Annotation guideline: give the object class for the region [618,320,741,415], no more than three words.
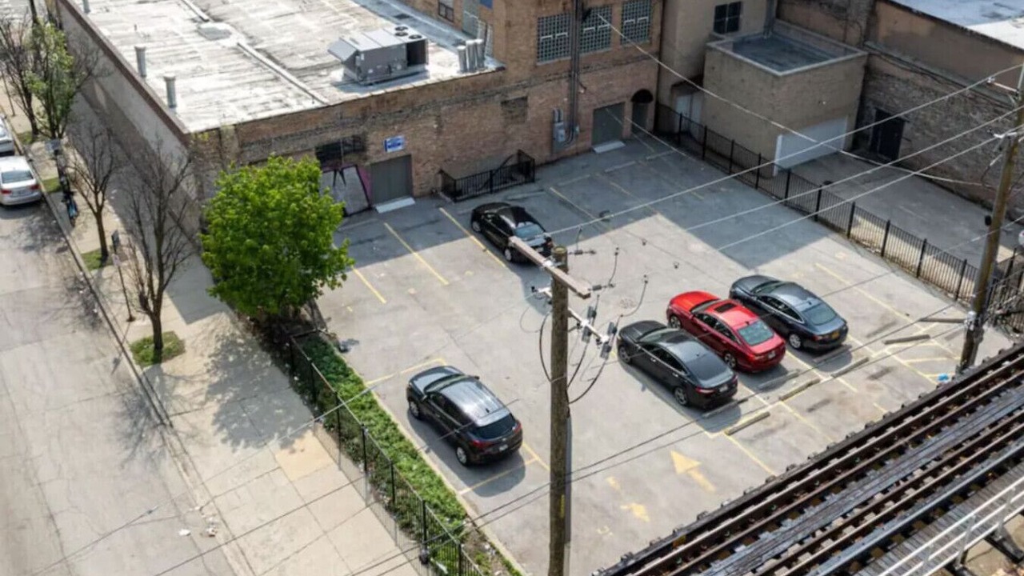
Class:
car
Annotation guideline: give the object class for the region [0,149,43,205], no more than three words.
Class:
car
